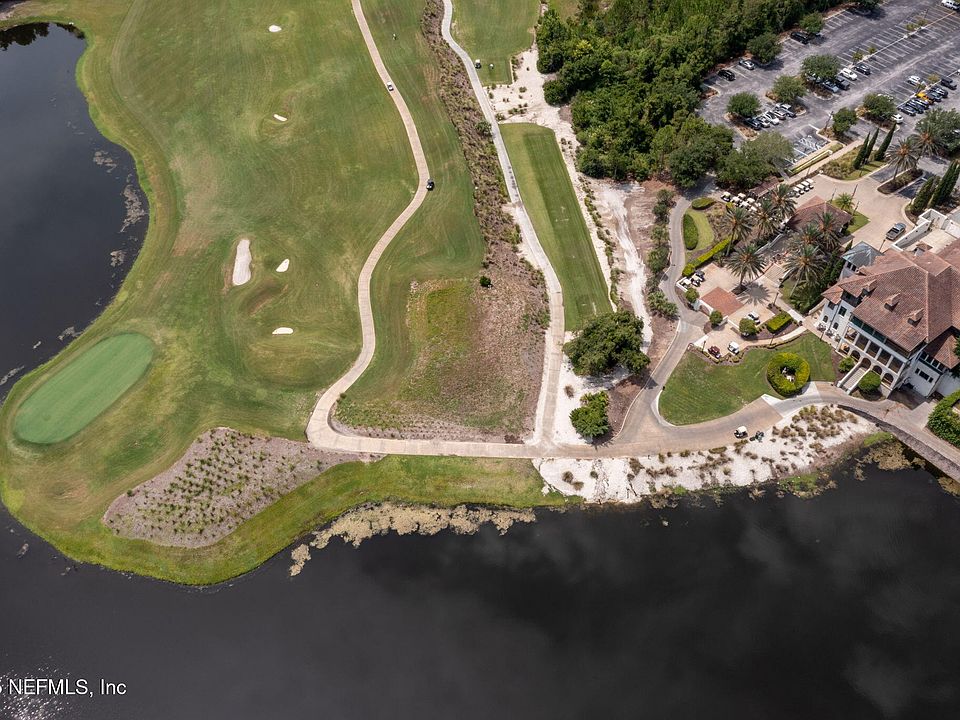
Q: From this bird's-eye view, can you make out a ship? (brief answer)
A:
No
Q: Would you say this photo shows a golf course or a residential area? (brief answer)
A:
golf course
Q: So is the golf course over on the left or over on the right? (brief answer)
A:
left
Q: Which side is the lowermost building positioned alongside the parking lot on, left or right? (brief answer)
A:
right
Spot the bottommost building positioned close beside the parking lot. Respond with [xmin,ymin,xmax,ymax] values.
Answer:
[818,241,960,398]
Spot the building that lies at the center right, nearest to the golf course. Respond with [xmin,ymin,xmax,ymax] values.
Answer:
[697,286,744,328]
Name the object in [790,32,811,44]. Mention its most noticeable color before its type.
black vehicle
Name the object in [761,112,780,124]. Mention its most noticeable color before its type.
white vehicle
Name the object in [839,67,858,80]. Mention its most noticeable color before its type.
white vehicle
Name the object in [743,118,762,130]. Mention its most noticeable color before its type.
black vehicle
